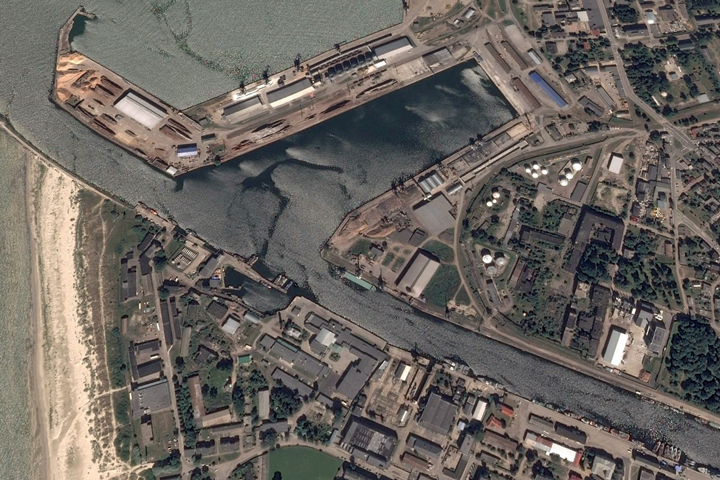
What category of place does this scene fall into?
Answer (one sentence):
The picture captures a port.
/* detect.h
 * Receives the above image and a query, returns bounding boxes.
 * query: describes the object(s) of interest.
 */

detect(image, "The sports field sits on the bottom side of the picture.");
[262,445,342,480]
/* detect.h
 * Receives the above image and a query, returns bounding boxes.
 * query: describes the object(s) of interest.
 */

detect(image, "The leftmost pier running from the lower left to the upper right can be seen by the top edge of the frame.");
[55,6,95,60]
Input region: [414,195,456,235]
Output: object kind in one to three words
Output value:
building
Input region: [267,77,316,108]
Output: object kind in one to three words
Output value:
building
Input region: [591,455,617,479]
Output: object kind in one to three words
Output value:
house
